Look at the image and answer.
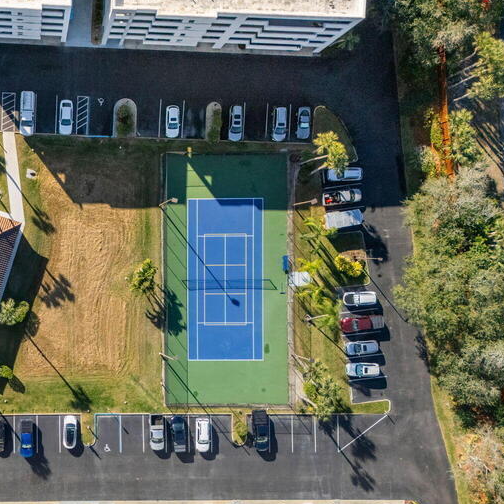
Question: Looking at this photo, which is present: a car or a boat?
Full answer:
It is a car that can be seen here.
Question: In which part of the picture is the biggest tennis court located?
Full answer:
The biggest tennis court is in the center part of the image.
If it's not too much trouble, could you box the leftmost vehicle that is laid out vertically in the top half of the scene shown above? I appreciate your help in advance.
[19,90,36,136]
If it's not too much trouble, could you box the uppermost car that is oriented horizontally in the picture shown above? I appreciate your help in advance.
[326,167,362,183]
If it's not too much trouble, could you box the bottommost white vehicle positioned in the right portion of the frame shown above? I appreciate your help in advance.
[345,362,380,378]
